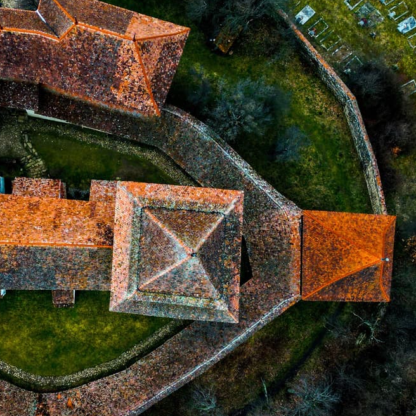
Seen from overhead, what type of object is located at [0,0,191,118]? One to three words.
house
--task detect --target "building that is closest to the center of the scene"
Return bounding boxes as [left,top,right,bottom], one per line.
[108,179,246,324]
